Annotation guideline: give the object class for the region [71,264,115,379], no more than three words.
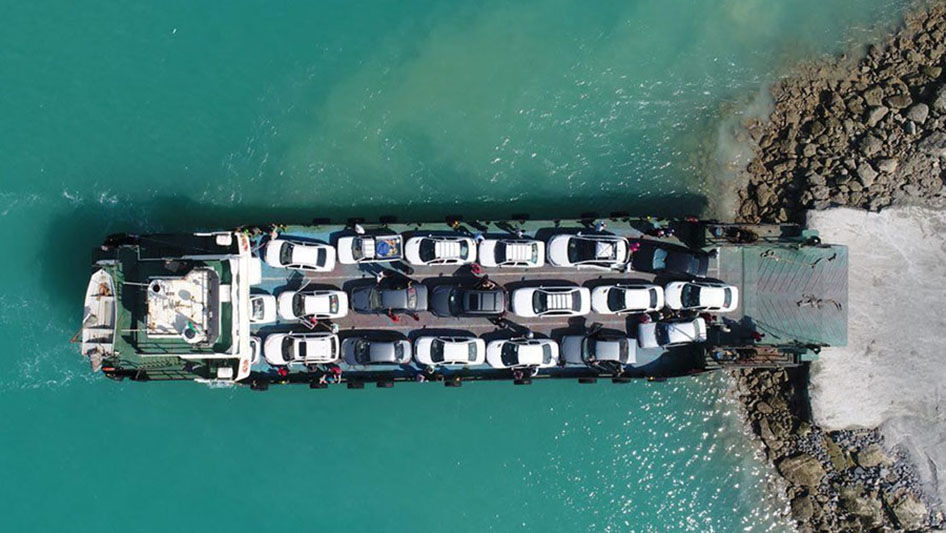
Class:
boat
